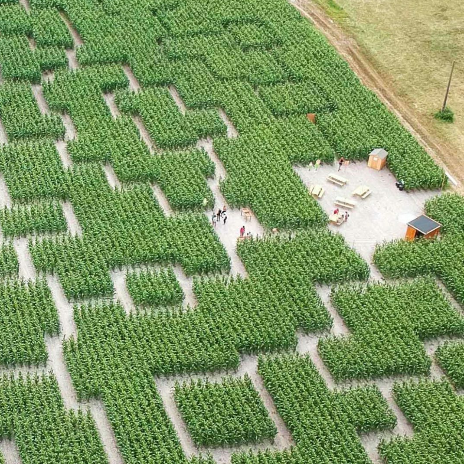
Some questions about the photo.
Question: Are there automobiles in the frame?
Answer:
No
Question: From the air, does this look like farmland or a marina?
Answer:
farmland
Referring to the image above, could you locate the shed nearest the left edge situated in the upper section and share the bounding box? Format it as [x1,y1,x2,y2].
[369,146,389,171]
